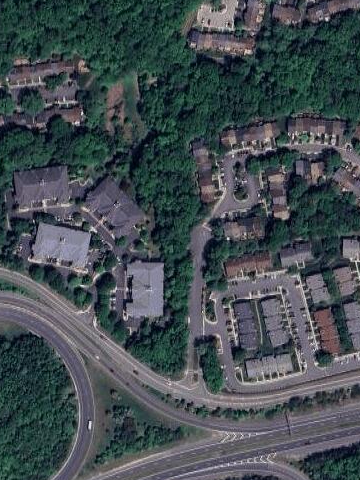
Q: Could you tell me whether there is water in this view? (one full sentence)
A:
No, there is no water in the image.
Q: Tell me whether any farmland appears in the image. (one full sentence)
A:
No, farmland can't be seen anywhere here.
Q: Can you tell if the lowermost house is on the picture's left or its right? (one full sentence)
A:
The lowermost house is on the right side of the image.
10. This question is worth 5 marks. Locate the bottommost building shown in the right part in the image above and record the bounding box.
[244,350,294,380]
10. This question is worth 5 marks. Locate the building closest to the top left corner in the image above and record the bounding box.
[8,60,76,83]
